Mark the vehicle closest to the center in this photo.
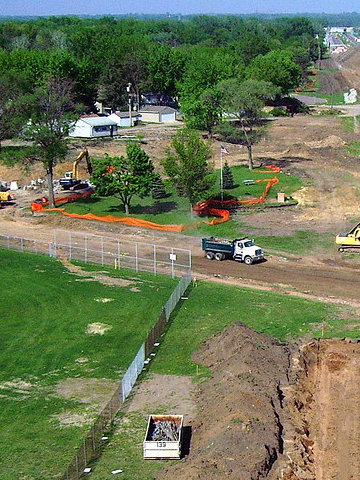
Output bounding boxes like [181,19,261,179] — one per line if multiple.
[192,238,266,268]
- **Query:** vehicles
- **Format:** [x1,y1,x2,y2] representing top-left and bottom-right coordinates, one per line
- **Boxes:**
[0,190,17,208]
[58,142,102,190]
[334,224,360,254]
[192,238,266,268]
